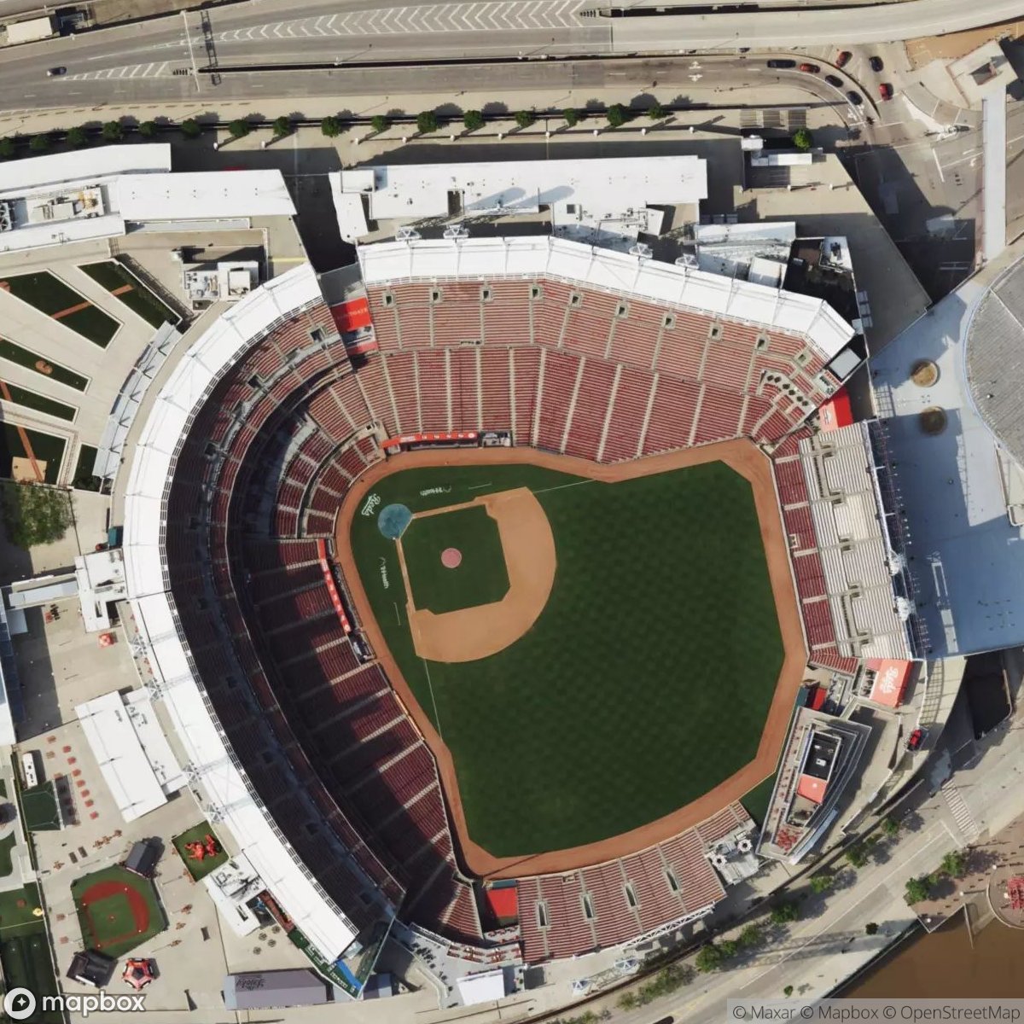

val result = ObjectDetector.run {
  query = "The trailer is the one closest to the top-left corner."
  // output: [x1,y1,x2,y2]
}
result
[8,17,55,42]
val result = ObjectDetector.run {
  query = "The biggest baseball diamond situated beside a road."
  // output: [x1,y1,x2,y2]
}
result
[337,410,832,880]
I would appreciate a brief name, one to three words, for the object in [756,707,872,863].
building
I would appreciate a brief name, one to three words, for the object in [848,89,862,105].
car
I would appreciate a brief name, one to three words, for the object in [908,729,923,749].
vehicle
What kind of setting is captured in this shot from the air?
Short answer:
sports ground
